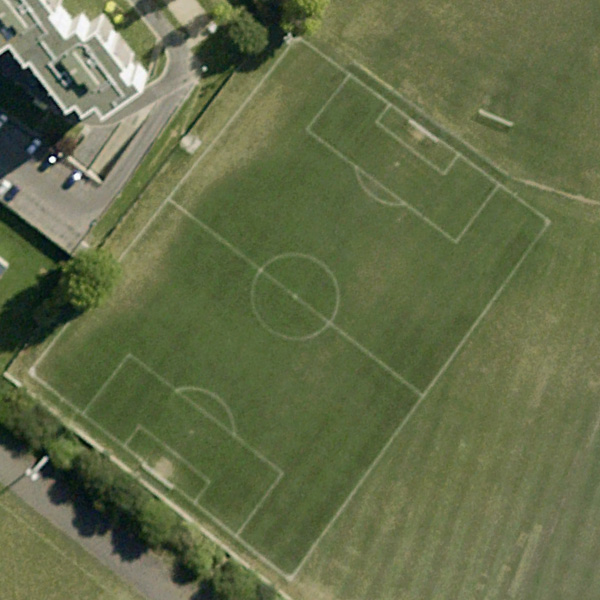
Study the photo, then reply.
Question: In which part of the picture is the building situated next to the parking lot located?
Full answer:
The building situated next to the parking lot appears toward the top left of the photo.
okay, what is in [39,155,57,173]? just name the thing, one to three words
car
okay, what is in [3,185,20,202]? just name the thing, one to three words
car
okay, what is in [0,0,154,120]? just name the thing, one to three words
building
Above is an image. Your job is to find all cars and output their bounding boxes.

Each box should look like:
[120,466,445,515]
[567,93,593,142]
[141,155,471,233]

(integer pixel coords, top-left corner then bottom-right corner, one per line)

[3,185,20,202]
[0,178,12,196]
[39,155,57,173]
[63,172,80,190]
[0,112,8,126]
